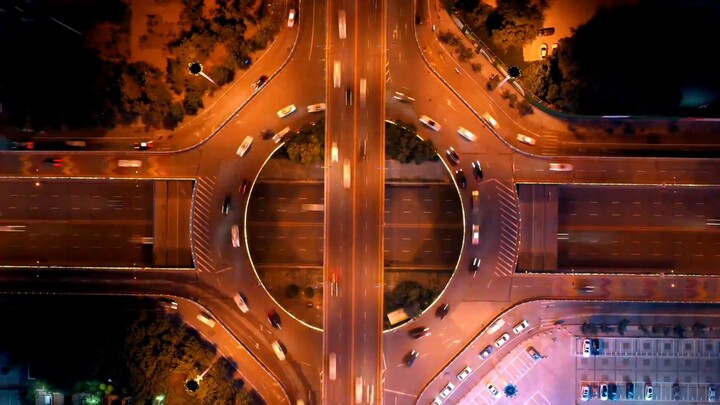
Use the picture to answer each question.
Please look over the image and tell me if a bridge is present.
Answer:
Yes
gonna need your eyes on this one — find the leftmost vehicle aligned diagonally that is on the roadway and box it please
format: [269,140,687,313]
[199,314,215,327]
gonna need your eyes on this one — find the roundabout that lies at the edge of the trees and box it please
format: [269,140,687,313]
[191,5,543,405]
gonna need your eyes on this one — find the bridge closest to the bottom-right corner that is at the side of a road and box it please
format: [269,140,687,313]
[512,184,560,274]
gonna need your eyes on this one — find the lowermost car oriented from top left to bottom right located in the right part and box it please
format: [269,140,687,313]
[487,382,501,397]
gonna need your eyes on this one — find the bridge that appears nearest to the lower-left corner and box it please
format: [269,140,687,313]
[153,179,198,269]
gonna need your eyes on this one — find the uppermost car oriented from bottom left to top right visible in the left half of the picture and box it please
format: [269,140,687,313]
[254,74,269,89]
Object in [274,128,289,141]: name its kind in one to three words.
vehicle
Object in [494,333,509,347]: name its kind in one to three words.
vehicle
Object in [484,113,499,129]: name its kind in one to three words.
car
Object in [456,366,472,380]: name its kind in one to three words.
car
